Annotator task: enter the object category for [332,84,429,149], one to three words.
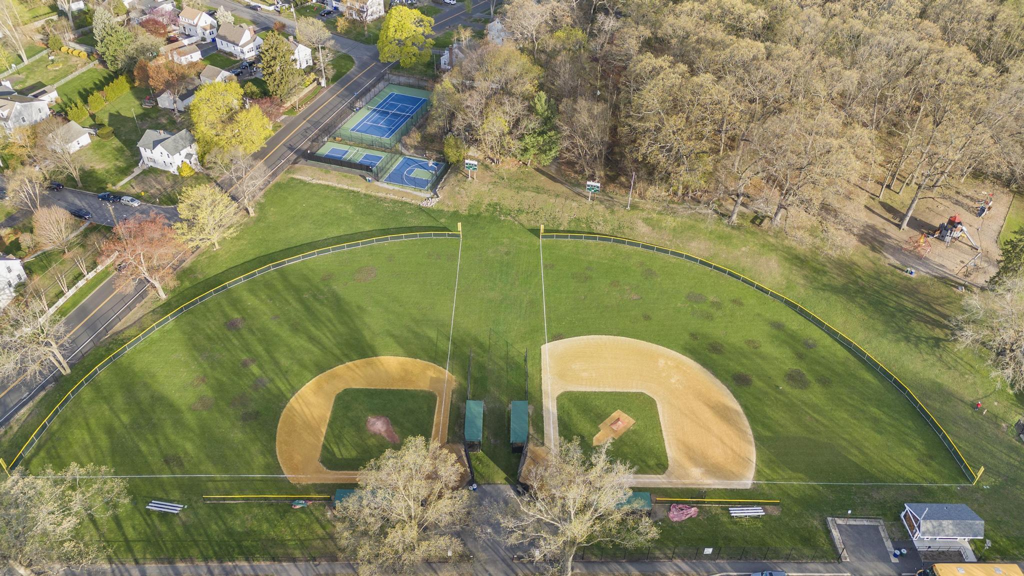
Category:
tennis court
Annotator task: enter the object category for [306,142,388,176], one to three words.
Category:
sports court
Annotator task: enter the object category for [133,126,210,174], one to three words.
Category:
house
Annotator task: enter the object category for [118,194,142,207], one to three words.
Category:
vehicle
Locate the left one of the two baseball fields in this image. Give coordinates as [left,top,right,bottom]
[11,237,474,495]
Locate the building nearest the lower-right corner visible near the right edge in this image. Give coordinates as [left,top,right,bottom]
[897,503,986,549]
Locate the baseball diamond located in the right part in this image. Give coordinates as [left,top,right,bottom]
[521,239,973,496]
